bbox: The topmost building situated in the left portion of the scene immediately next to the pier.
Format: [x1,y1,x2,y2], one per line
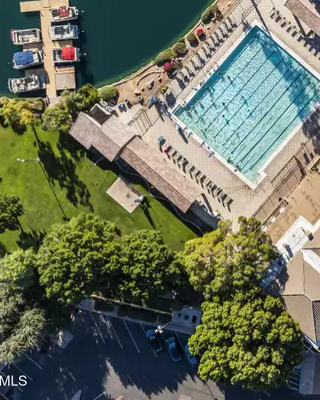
[69,113,140,161]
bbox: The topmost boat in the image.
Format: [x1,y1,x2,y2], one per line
[47,6,84,22]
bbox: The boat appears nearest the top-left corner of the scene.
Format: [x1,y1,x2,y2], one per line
[9,29,41,44]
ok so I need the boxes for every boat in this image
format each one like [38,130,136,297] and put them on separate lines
[47,6,84,22]
[50,47,87,62]
[9,29,41,44]
[0,76,43,94]
[5,51,43,69]
[49,25,85,40]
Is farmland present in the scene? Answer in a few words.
No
